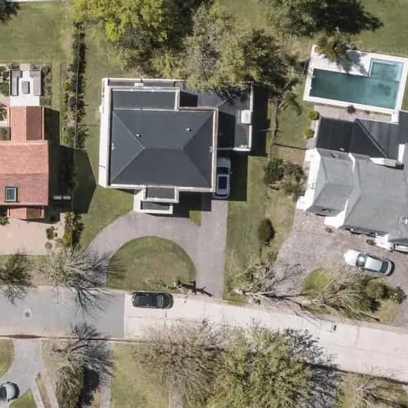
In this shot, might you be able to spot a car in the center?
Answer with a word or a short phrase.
Yes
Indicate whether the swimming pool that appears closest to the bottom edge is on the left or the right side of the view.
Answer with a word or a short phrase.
right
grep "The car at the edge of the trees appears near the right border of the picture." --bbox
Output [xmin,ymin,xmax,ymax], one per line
[343,248,393,275]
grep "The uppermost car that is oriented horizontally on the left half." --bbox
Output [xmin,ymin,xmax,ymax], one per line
[131,291,172,310]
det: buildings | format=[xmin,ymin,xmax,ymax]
[0,106,49,218]
[287,110,408,253]
[98,79,253,213]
